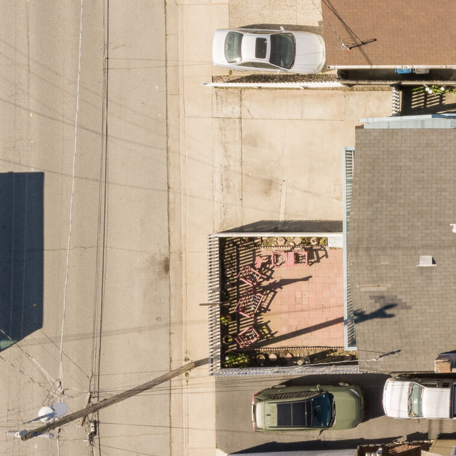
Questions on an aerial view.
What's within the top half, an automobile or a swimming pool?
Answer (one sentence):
Looking within the top half, you will find an automobile.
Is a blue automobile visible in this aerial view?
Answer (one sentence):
No, the photo shows no blue automobile.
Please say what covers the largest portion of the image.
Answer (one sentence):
The scene is dominated by paved ground.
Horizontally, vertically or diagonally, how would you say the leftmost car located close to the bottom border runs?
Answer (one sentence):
The leftmost car located close to the bottom border runs horizontally in the image.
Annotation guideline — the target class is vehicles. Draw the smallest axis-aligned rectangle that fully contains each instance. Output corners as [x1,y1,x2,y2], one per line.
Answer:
[210,24,325,76]
[252,381,364,437]
[383,375,456,426]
